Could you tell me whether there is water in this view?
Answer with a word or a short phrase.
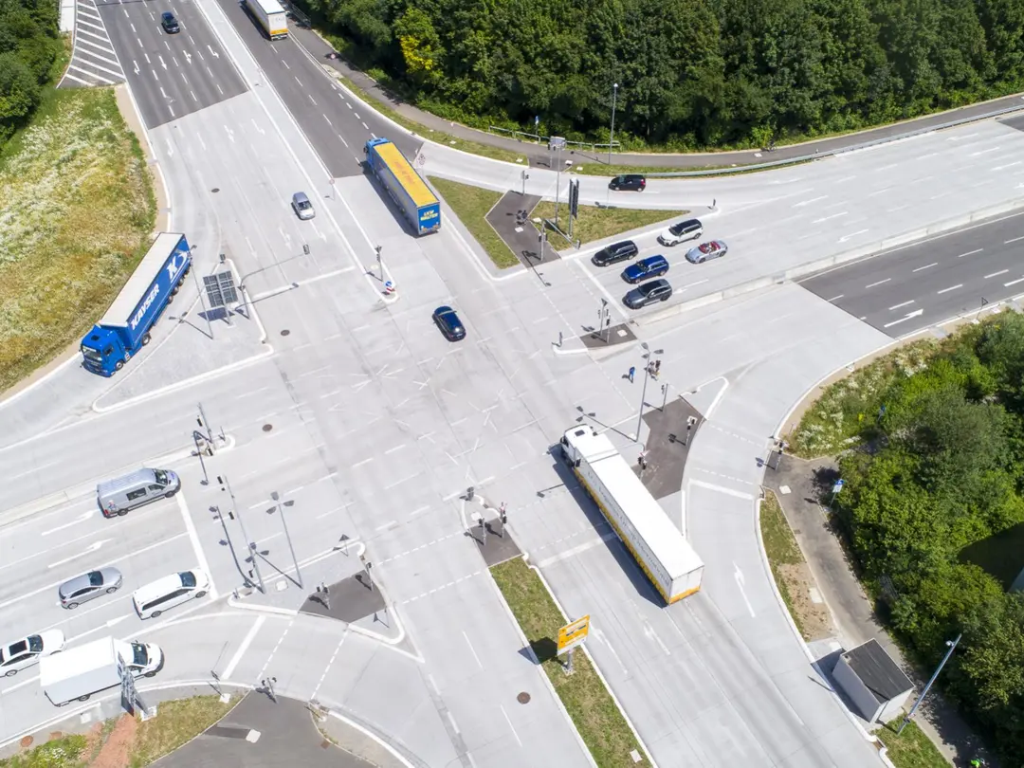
No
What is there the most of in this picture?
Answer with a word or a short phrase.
paved ground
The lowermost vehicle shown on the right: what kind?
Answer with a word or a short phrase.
truck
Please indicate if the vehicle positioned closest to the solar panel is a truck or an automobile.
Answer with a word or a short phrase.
truck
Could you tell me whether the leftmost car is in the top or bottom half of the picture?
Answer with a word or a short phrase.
bottom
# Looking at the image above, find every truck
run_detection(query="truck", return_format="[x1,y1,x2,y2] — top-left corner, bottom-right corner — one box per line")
[76,232,191,381]
[244,0,289,39]
[362,136,441,232]
[38,636,164,707]
[555,423,703,605]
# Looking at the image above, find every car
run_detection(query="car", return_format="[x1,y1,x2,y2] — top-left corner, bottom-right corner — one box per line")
[659,217,705,246]
[622,255,671,283]
[593,240,639,266]
[55,566,123,608]
[621,276,674,308]
[161,12,181,34]
[687,239,730,263]
[0,627,70,677]
[132,566,212,619]
[435,307,467,344]
[289,190,315,220]
[610,172,647,192]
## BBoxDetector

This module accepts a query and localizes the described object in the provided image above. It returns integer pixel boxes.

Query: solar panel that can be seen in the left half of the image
[203,271,238,327]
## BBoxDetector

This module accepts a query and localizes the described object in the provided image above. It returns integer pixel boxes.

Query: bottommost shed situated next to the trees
[833,638,914,722]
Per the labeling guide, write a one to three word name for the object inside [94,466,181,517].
van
